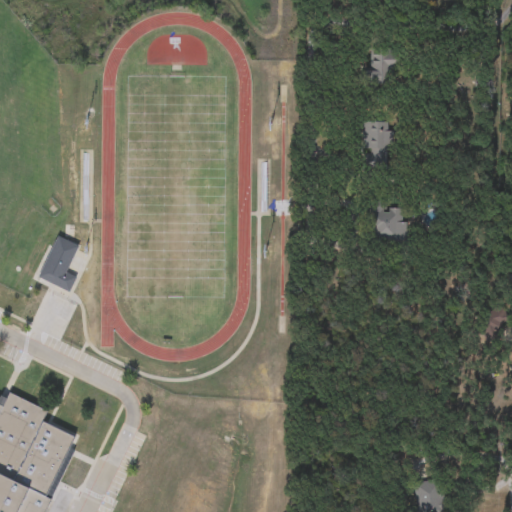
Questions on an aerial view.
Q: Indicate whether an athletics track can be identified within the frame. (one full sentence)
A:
Yes, there's an athletics track here.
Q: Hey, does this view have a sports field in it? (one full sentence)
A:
Yes, looking at the shot, I can spot a sports field.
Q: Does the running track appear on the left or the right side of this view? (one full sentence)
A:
It is on the left.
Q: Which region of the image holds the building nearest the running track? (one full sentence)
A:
Look in the left portion of the view to spot the building nearest the running track.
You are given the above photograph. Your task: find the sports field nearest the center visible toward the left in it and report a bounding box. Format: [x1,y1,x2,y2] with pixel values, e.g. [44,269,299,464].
[128,76,226,297]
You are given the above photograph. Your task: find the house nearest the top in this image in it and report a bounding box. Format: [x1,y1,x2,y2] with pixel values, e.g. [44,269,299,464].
[371,55,396,81]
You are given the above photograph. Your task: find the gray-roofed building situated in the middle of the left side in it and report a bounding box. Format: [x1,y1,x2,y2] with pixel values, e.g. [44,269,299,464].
[40,236,79,292]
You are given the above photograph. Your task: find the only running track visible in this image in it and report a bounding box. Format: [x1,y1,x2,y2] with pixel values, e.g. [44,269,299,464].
[101,12,251,361]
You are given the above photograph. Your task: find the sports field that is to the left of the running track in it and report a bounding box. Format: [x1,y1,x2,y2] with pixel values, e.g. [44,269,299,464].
[0,0,64,296]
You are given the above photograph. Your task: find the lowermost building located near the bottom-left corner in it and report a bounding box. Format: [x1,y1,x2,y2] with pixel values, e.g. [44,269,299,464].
[0,387,81,512]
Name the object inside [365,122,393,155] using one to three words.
house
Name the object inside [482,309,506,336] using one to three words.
house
